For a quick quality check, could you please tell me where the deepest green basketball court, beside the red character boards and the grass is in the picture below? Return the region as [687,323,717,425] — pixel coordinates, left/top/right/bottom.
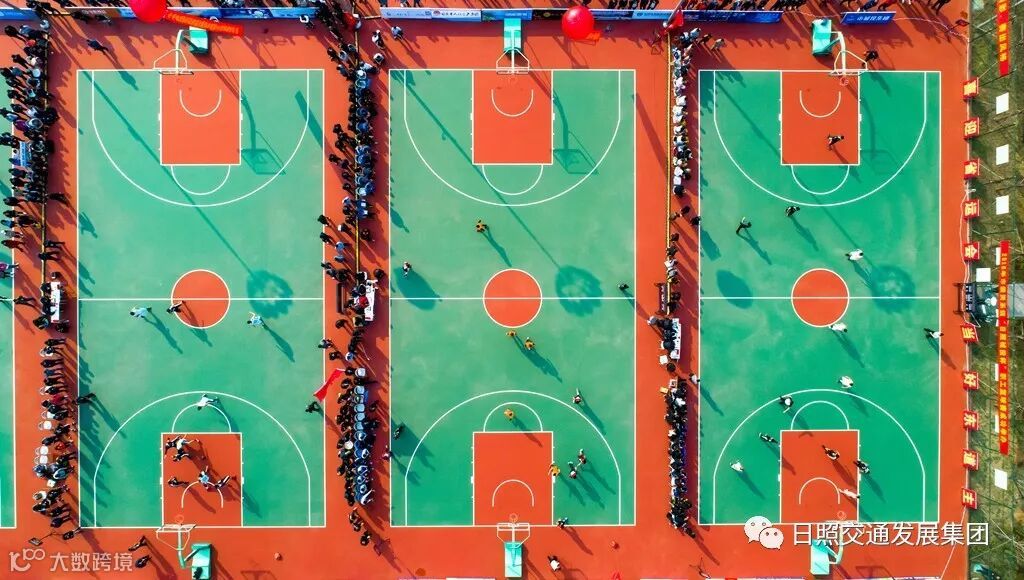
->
[698,70,941,525]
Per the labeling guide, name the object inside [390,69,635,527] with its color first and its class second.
green basketball court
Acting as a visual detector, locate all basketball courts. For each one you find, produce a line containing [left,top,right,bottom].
[390,69,635,527]
[698,70,941,525]
[0,69,14,529]
[76,69,326,529]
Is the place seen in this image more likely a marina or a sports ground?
sports ground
